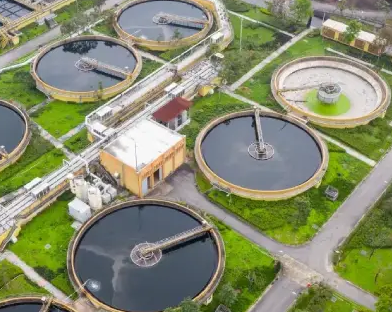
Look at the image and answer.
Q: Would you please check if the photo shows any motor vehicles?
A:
No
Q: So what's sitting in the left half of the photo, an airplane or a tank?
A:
tank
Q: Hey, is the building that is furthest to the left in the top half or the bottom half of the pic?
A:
bottom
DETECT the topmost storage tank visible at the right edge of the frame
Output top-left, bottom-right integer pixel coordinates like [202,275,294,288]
[269,56,390,129]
